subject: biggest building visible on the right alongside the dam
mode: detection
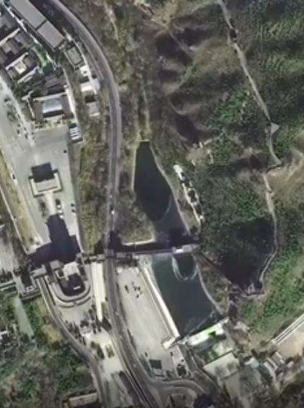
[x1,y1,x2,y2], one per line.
[186,317,226,346]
